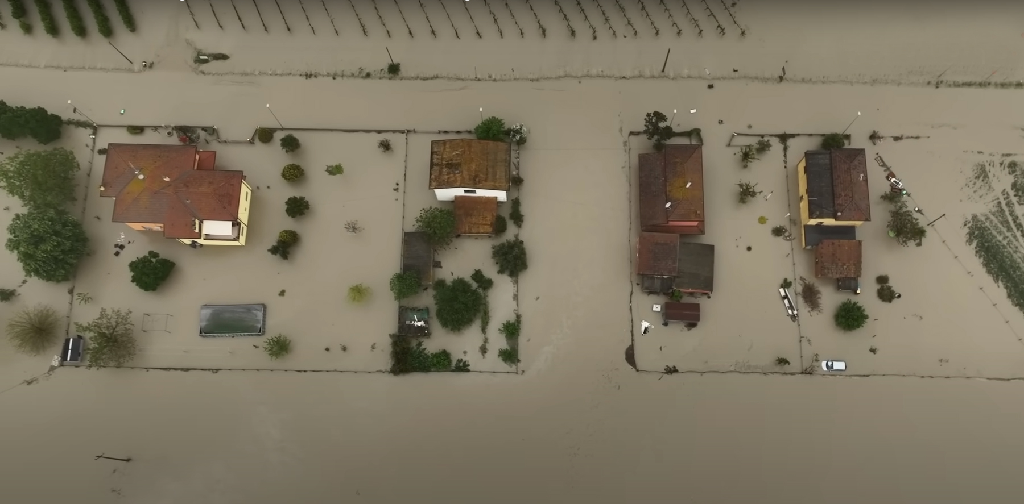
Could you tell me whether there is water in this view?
Yes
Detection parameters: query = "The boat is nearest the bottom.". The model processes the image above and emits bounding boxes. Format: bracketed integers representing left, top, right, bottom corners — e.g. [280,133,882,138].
[780,288,798,316]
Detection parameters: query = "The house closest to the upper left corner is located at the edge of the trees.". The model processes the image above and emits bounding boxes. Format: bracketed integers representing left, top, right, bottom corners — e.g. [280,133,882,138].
[98,142,249,245]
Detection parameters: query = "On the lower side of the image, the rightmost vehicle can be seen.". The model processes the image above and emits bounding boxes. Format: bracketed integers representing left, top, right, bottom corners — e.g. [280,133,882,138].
[820,359,847,372]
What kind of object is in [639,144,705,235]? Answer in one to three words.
house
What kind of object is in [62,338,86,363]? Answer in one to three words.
shed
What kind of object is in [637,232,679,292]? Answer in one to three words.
shed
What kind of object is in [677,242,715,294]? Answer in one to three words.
barn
